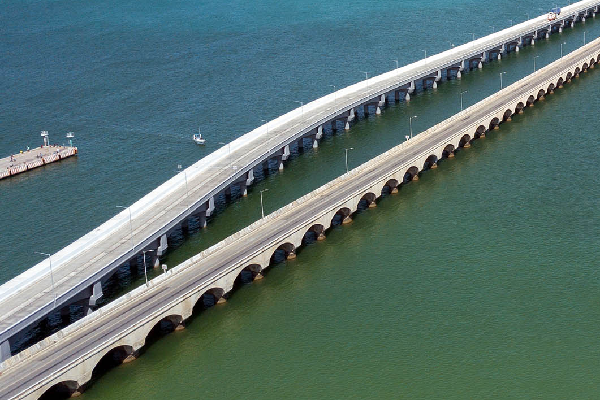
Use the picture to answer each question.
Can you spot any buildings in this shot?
No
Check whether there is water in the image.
Yes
